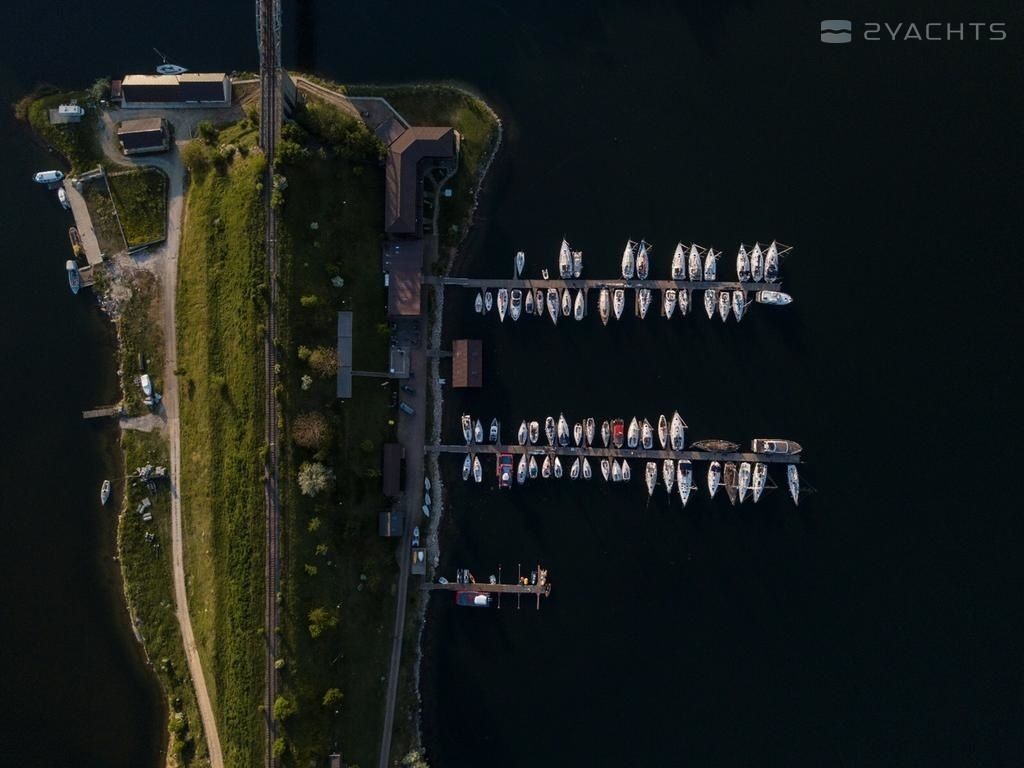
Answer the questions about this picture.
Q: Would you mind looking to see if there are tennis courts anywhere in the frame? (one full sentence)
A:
No, this view has no tennis court in it.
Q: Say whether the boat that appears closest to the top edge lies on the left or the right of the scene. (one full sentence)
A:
The boat that appears closest to the top edge sits on the left side.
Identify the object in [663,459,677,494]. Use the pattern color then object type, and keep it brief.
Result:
white boat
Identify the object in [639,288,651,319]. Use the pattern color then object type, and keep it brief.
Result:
white boat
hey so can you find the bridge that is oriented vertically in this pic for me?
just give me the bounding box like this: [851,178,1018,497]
[256,0,301,114]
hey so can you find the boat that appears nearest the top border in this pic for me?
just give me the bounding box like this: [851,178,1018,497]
[157,54,191,74]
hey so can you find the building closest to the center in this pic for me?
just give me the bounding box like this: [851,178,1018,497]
[452,339,483,387]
